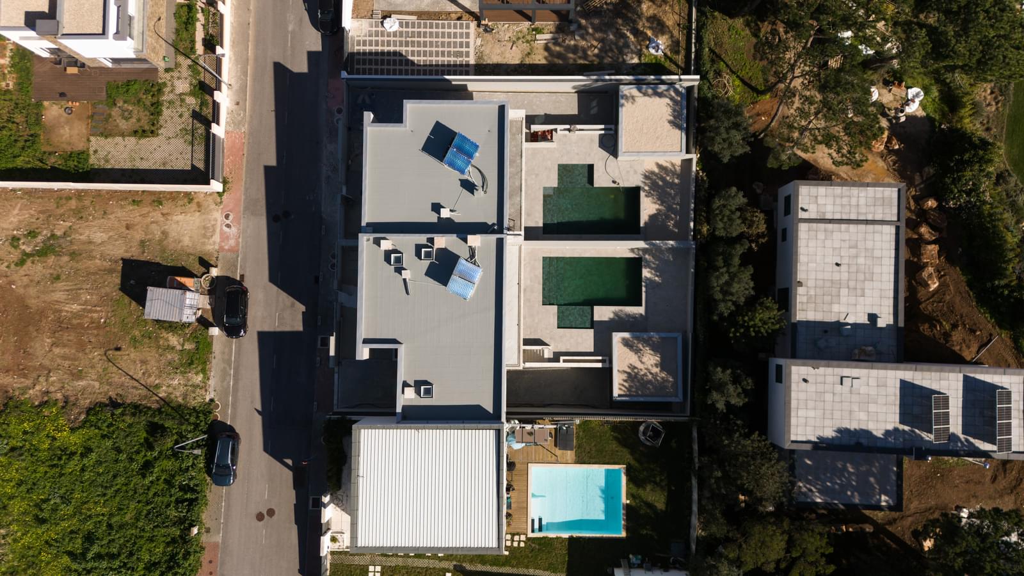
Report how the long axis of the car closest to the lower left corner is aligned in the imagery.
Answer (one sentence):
From this overhead view, the car closest to the lower left corner appears to run vertically.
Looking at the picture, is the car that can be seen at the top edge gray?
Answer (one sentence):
No, from above the car that can be seen at the top edge looks black.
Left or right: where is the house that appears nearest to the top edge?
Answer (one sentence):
It is on the left.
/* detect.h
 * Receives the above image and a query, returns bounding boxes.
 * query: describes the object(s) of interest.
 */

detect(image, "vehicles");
[209,428,242,488]
[220,281,250,338]
[314,0,341,33]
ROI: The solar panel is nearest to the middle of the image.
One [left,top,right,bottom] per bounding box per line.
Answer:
[446,257,482,300]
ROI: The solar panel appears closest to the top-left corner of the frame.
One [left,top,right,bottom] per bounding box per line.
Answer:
[443,132,480,175]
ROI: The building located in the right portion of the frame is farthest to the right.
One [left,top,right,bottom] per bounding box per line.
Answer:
[768,181,1024,510]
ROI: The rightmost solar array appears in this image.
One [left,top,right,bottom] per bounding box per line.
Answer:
[985,388,1012,454]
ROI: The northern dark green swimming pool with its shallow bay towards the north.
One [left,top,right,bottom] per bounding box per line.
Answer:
[543,164,641,234]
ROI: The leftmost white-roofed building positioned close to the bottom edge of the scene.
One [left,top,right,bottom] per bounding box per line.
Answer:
[350,407,507,554]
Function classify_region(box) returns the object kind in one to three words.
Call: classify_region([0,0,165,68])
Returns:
house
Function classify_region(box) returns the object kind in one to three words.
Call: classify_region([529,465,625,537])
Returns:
swimming pool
